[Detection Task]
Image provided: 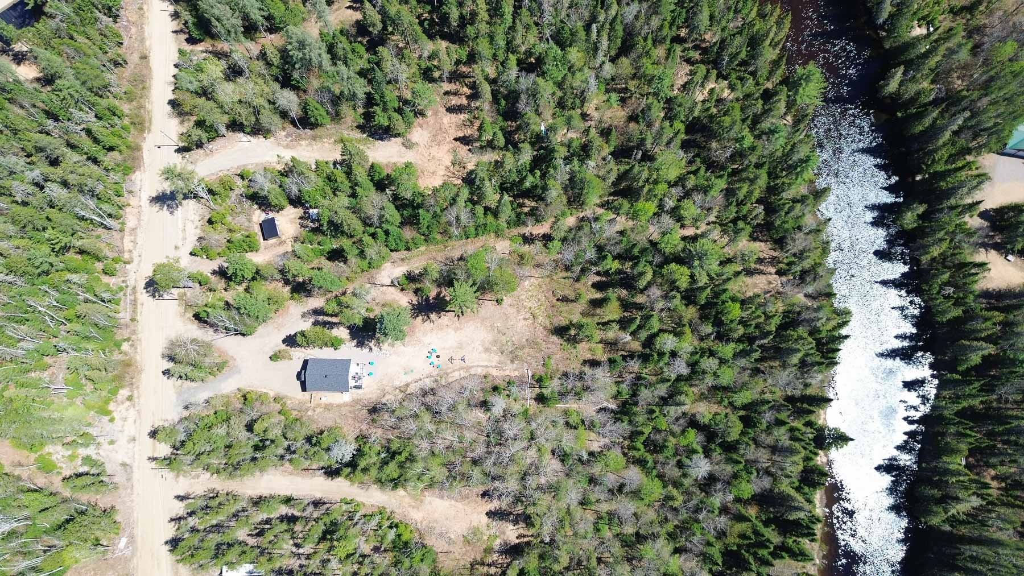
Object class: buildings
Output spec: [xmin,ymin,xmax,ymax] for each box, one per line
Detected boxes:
[262,218,282,245]
[0,0,53,27]
[300,358,368,395]
[996,121,1024,162]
